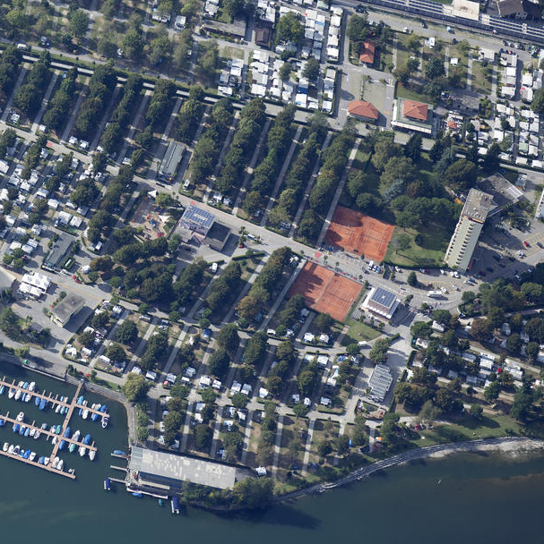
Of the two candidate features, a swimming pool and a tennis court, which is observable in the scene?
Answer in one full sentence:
Visible in the photo is a tennis court.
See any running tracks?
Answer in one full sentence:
No, no running track is visible in the scene.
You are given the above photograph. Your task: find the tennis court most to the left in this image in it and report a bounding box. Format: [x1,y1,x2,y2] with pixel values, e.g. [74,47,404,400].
[295,262,336,310]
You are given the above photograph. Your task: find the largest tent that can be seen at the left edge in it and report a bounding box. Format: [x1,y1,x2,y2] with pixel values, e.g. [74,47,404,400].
[25,273,51,294]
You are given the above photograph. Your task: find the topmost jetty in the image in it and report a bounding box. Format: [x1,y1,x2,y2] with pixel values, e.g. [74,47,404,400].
[0,377,110,421]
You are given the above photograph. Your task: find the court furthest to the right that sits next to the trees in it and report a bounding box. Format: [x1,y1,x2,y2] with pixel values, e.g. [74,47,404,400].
[354,215,395,261]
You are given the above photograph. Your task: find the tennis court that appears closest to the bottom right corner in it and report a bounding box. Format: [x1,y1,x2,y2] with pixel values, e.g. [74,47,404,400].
[315,273,363,321]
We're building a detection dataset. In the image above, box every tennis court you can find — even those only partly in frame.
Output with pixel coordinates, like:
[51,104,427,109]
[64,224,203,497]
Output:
[295,262,336,310]
[354,215,395,261]
[315,273,363,321]
[327,206,366,252]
